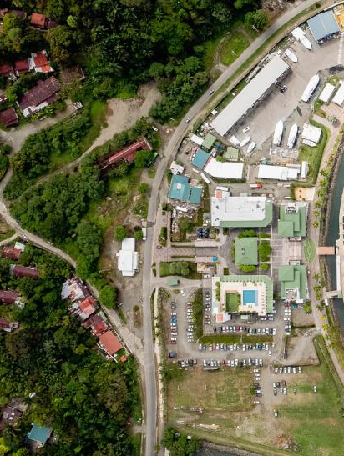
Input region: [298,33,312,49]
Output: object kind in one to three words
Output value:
boat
